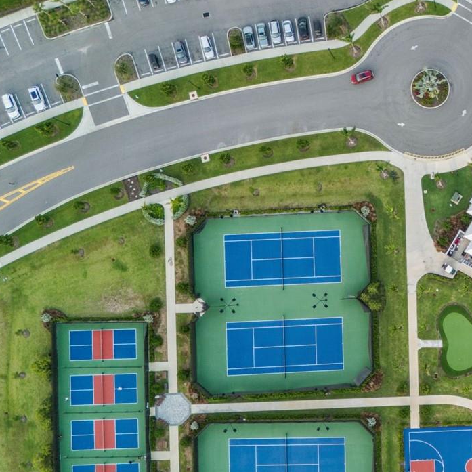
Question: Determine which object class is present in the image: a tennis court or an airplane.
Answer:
tennis court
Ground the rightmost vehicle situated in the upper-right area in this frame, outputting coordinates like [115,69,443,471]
[349,68,374,84]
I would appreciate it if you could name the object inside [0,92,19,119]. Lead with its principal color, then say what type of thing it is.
white car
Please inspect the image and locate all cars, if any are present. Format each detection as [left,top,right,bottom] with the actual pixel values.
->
[254,19,269,48]
[295,14,309,40]
[146,51,160,70]
[280,17,294,42]
[268,17,283,44]
[171,37,188,63]
[0,92,19,119]
[310,15,322,38]
[197,33,214,60]
[349,68,374,84]
[241,24,255,51]
[25,84,46,111]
